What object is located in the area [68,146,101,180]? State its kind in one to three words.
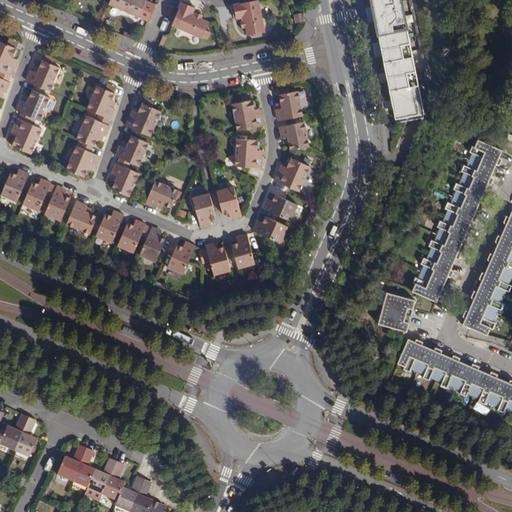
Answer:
house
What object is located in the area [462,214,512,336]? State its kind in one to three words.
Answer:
building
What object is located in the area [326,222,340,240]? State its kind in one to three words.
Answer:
vehicle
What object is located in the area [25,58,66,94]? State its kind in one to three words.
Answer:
house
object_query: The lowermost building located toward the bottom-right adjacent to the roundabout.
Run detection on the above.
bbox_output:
[397,340,512,414]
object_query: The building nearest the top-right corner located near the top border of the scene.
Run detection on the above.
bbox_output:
[368,0,426,124]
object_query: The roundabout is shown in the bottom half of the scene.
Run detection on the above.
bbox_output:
[182,322,346,486]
